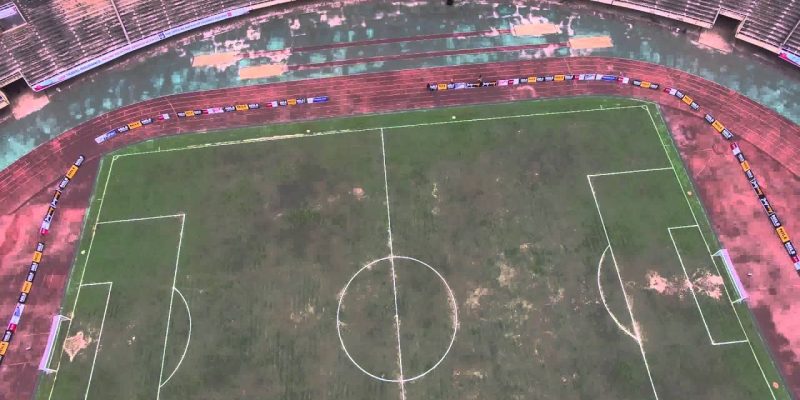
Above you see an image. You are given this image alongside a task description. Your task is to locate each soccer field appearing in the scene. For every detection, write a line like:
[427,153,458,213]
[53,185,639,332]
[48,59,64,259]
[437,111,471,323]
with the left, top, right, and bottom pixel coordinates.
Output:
[28,95,798,400]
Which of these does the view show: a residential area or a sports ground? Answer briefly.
sports ground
